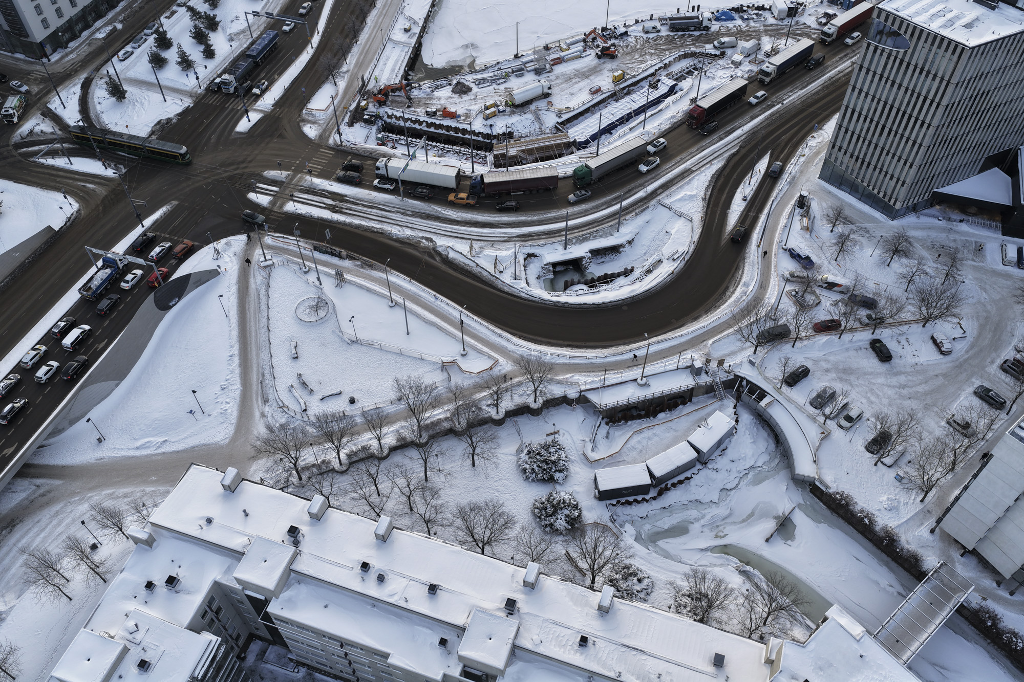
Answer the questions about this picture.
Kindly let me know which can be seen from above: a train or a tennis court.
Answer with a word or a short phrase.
train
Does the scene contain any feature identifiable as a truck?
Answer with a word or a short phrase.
Yes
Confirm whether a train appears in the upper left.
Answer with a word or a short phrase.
Yes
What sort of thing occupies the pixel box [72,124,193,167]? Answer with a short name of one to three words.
train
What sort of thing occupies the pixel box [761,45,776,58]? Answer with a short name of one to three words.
vehicle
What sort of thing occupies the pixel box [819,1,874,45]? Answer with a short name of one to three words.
truck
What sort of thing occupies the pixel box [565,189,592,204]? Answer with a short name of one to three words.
car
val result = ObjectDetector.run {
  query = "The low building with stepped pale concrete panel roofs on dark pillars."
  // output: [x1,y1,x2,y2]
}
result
[930,412,1024,597]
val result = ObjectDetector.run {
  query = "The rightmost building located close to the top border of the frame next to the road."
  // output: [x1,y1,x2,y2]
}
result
[819,0,1024,219]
